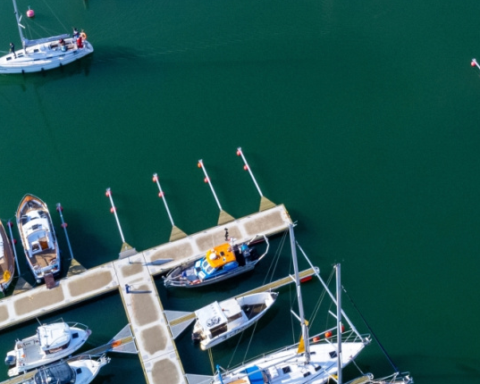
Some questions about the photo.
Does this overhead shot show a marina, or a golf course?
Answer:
marina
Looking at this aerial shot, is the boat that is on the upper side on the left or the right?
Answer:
left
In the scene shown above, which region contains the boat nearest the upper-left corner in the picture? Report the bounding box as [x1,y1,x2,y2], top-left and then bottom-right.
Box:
[0,0,94,74]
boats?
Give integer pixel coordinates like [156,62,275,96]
[160,230,275,291]
[32,353,124,384]
[0,221,16,298]
[183,291,279,357]
[19,196,71,300]
[0,0,94,74]
[216,222,373,384]
[5,322,105,379]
